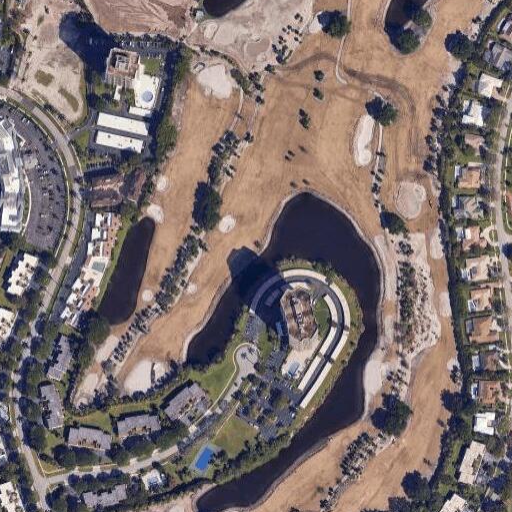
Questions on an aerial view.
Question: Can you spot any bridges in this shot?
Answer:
No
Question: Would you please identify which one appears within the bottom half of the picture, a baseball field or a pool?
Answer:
pool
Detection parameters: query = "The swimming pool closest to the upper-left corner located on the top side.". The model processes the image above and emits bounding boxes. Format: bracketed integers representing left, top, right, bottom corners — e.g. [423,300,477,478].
[141,91,153,104]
